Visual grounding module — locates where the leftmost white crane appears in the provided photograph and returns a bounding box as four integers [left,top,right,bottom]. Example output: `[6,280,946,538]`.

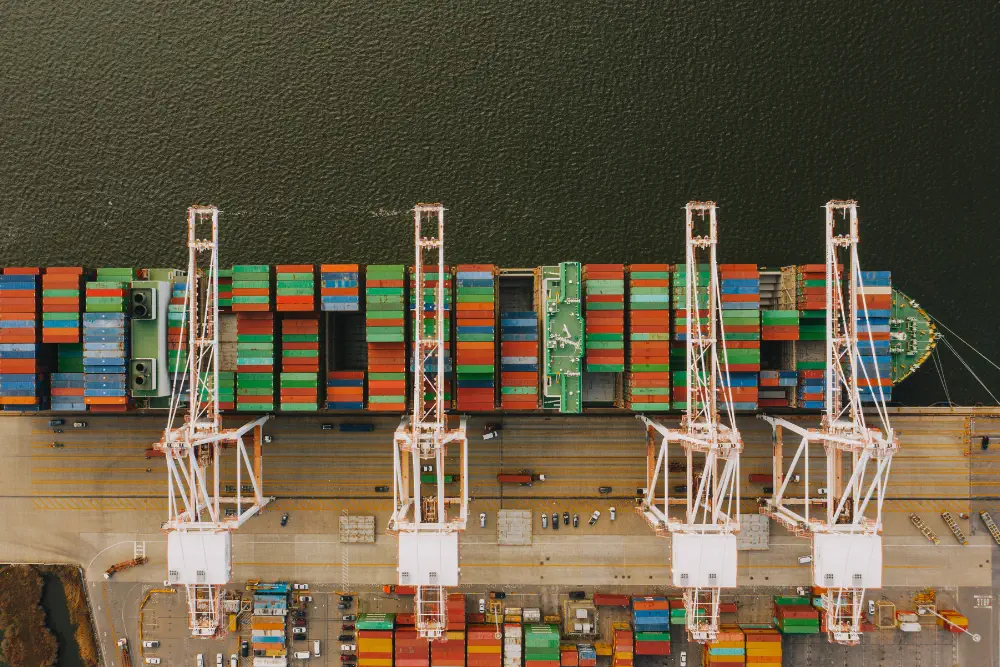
[155,206,277,642]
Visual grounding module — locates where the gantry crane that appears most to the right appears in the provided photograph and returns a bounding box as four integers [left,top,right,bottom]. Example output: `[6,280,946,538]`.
[754,200,901,642]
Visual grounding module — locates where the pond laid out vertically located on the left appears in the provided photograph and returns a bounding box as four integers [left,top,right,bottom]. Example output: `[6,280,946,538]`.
[42,566,78,667]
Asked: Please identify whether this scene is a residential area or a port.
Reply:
port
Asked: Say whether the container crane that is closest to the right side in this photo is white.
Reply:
Yes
